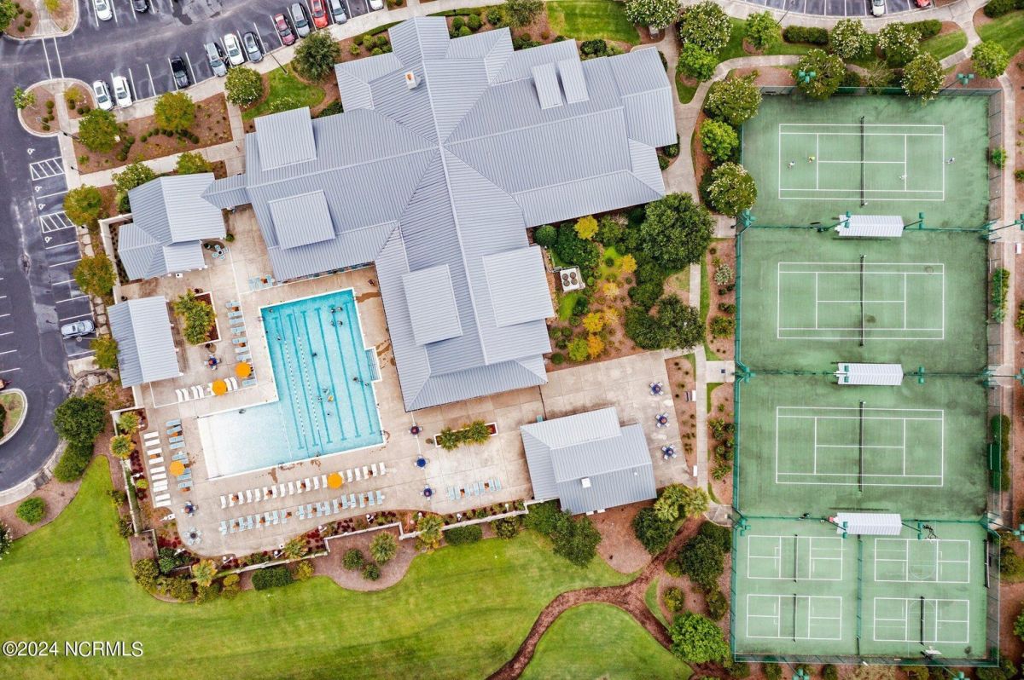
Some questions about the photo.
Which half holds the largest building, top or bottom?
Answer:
top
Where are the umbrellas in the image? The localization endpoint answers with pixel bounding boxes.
[236,362,252,378]
[170,461,185,476]
[327,473,343,488]
[213,380,228,395]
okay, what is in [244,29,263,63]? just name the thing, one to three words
car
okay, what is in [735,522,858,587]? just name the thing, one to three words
sports court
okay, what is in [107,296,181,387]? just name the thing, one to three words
building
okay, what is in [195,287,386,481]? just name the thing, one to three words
swimming pool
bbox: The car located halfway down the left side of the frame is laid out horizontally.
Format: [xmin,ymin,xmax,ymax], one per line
[61,320,97,336]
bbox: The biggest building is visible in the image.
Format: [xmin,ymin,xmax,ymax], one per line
[245,16,677,412]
